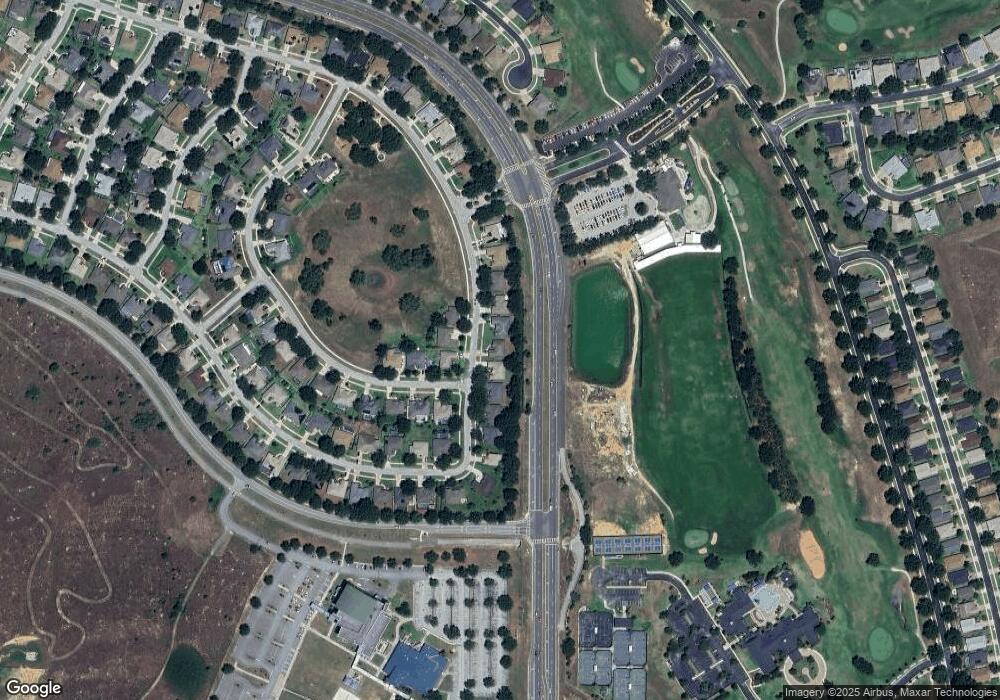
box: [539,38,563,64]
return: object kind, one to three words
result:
house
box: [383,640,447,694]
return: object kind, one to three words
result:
building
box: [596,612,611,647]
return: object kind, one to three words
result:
tennis court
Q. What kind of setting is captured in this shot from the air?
residential area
